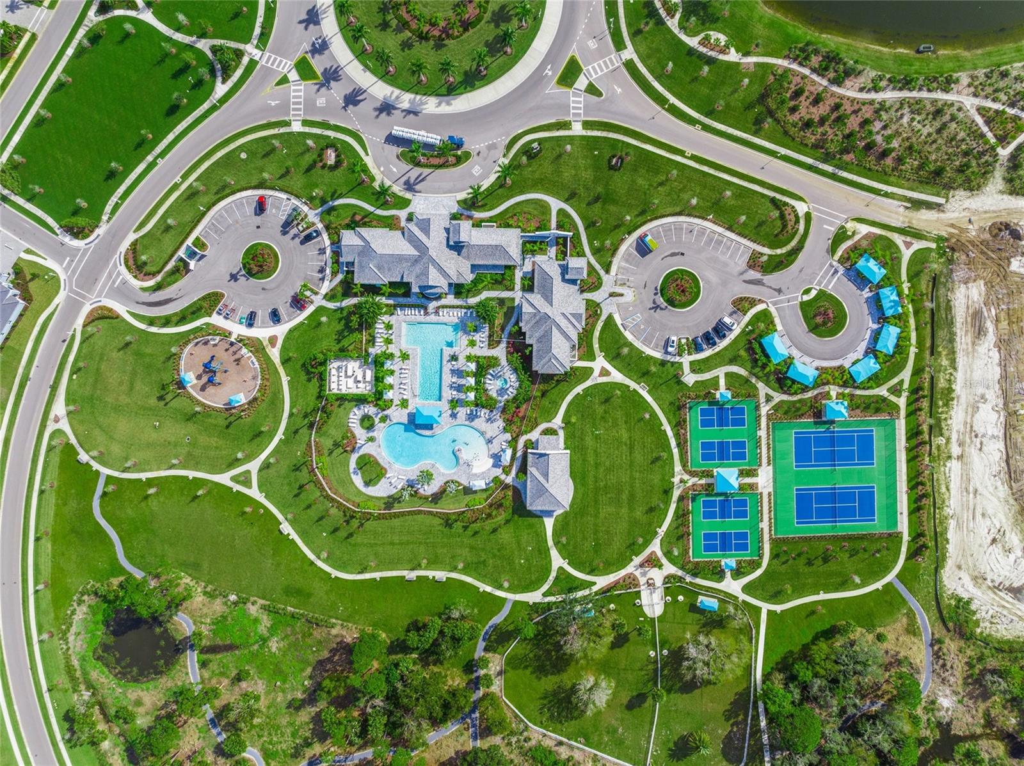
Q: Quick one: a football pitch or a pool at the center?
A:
pool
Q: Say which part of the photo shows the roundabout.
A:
top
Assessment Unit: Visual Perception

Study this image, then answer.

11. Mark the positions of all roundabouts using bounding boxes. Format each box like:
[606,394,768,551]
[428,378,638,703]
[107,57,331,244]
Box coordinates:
[319,0,562,111]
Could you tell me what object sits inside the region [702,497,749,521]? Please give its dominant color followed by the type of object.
blue sports court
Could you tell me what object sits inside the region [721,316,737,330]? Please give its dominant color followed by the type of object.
white car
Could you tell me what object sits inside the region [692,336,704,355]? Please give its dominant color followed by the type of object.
blue vehicle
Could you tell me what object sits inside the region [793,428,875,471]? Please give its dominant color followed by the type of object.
blue tennis court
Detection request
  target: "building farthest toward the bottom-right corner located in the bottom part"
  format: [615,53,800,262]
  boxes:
[527,435,570,510]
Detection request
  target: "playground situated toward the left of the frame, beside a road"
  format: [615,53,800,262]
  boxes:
[179,335,260,408]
